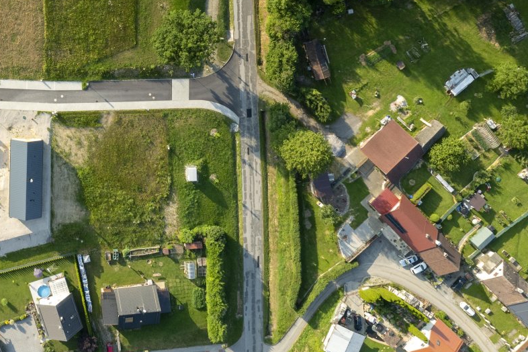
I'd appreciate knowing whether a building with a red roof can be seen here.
Yes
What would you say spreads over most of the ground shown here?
grass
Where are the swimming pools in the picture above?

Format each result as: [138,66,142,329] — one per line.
[38,286,51,299]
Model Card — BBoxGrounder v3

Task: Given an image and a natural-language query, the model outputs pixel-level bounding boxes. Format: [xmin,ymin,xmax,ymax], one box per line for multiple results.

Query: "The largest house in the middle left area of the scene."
[7,138,43,221]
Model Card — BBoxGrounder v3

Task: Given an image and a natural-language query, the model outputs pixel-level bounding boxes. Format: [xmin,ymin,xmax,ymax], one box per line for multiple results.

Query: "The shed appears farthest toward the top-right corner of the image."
[444,71,474,96]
